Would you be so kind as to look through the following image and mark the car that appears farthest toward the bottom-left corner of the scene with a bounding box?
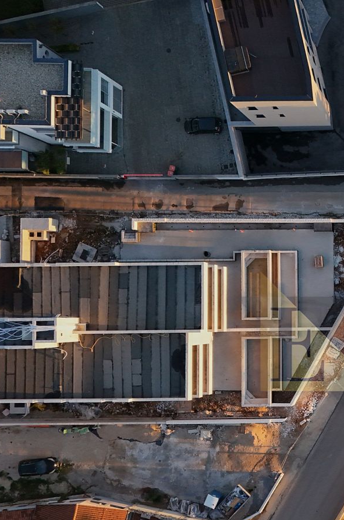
[13,457,56,477]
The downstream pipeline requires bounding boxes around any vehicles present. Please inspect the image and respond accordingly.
[13,457,56,477]
[182,113,222,133]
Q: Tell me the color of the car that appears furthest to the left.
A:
black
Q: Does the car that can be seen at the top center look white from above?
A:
No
